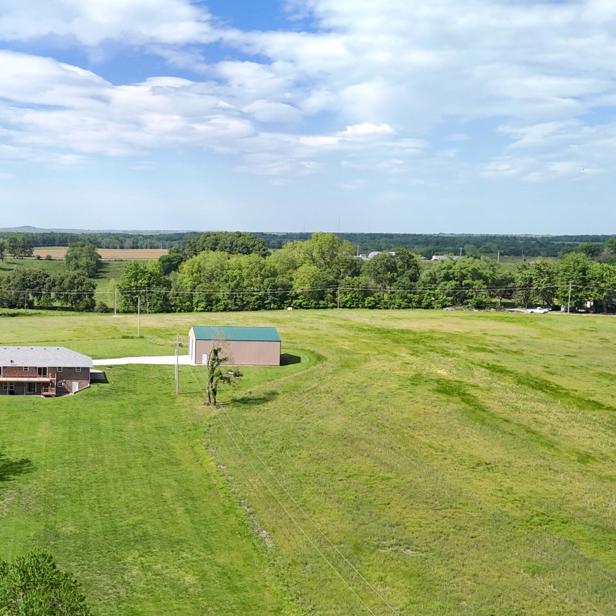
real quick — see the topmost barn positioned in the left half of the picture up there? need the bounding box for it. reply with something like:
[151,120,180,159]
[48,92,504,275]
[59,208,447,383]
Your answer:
[189,325,280,365]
